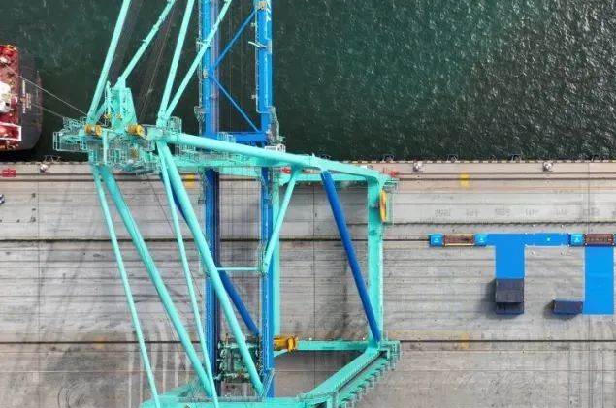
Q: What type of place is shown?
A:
port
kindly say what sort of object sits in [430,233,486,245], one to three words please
vehicle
